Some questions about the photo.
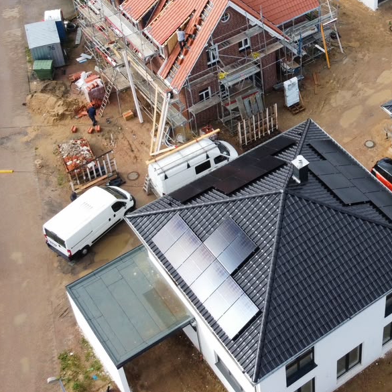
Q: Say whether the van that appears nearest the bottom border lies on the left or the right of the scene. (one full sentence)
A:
It is on the left.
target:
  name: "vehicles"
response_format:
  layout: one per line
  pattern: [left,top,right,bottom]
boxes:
[144,135,237,197]
[370,152,392,189]
[29,182,144,265]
